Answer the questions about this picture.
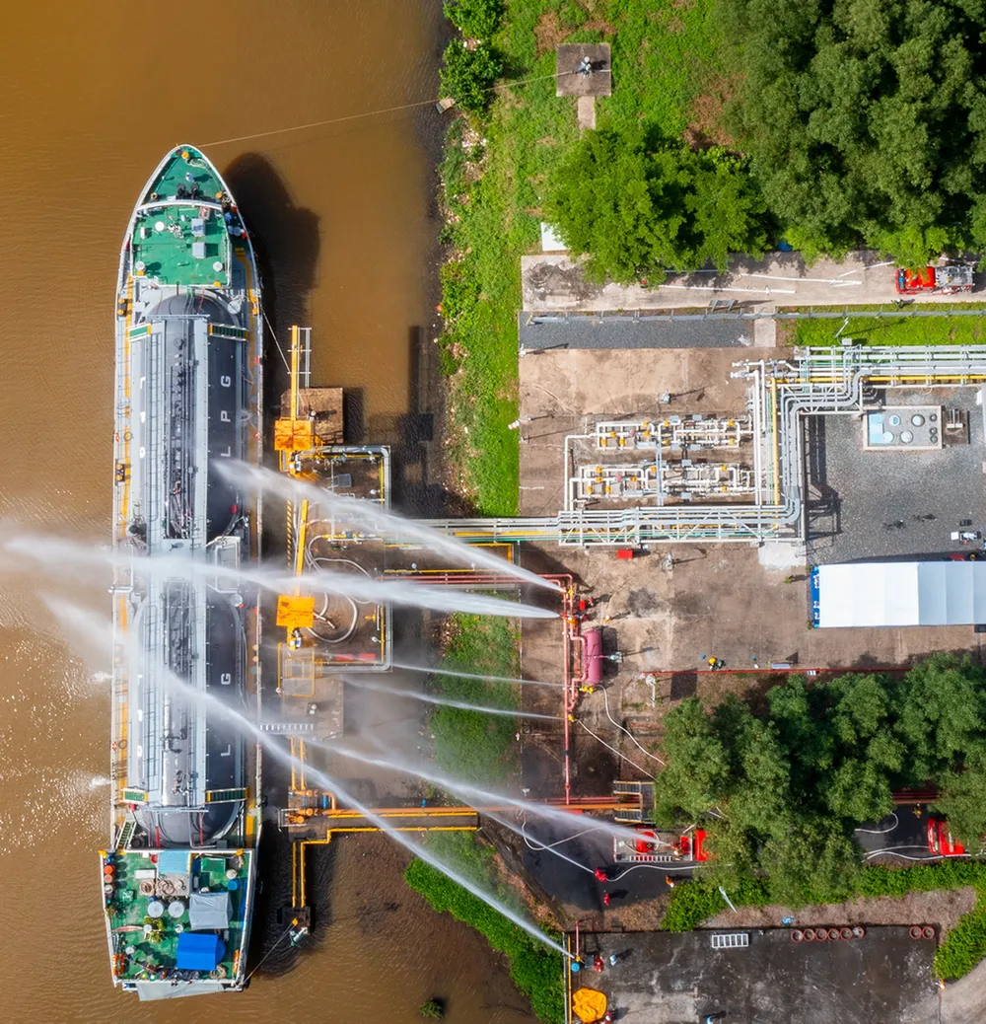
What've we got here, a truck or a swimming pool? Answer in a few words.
truck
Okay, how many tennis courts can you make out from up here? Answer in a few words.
zero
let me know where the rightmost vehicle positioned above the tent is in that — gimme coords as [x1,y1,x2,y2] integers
[891,264,986,293]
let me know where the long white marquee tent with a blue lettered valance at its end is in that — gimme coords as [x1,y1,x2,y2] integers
[811,562,986,626]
